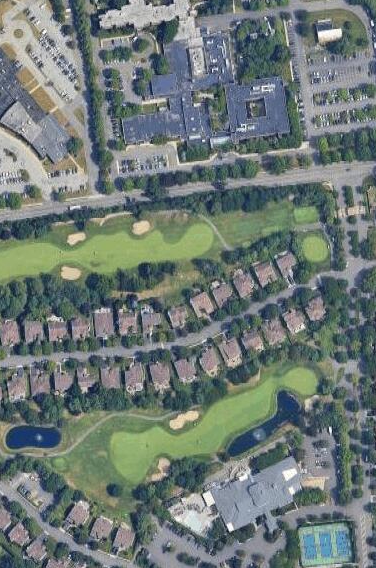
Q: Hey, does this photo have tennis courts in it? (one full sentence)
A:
Yes, the image includes a tennis court.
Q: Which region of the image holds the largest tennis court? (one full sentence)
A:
The largest tennis court appears toward the bottom right of the photo.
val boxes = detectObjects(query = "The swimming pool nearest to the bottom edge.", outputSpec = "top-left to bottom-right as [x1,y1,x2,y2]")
[187,508,208,533]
